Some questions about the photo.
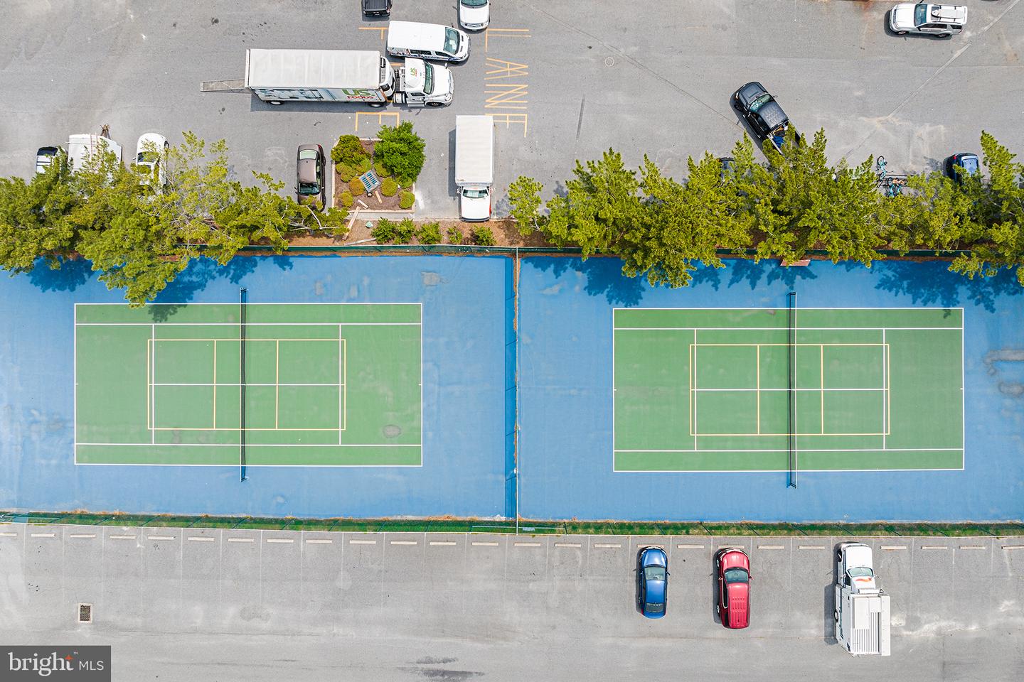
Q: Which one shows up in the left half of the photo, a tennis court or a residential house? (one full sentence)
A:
There is a tennis court in the left half of the photo.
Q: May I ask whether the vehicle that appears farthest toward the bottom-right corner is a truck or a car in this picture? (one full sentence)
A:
The vehicle that appears farthest toward the bottom-right corner in the image is a truck.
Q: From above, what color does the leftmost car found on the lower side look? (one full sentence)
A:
The leftmost car found on the lower side looks blue in the image.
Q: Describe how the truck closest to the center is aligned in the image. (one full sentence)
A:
From this overhead view, the truck closest to the center appears to run up and down.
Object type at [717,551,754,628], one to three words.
car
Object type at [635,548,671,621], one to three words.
car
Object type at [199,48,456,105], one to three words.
truck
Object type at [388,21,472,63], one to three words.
van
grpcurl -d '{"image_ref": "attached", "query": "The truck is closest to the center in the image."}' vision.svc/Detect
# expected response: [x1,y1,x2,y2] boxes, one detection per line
[455,116,497,224]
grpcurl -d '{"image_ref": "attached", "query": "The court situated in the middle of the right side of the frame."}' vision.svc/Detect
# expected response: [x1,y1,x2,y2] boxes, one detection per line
[517,257,1024,522]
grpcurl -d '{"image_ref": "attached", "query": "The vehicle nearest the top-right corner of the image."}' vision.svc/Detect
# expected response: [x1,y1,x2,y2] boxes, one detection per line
[886,0,969,38]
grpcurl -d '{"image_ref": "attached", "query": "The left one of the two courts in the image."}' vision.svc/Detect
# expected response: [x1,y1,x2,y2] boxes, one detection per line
[0,256,516,519]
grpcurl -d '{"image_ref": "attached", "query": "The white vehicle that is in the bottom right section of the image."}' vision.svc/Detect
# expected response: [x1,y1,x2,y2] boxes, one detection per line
[832,543,888,656]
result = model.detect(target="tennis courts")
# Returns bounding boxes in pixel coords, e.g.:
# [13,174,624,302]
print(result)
[517,257,1024,522]
[0,256,516,519]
